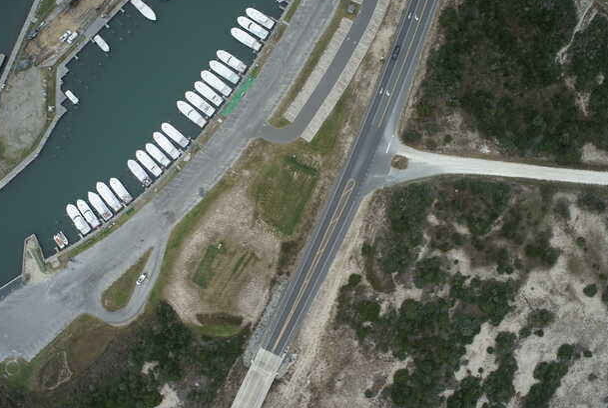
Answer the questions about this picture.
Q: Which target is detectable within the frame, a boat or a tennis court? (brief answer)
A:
boat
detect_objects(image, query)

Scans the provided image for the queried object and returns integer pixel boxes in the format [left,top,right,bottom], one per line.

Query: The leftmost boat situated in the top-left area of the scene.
[64,89,80,105]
